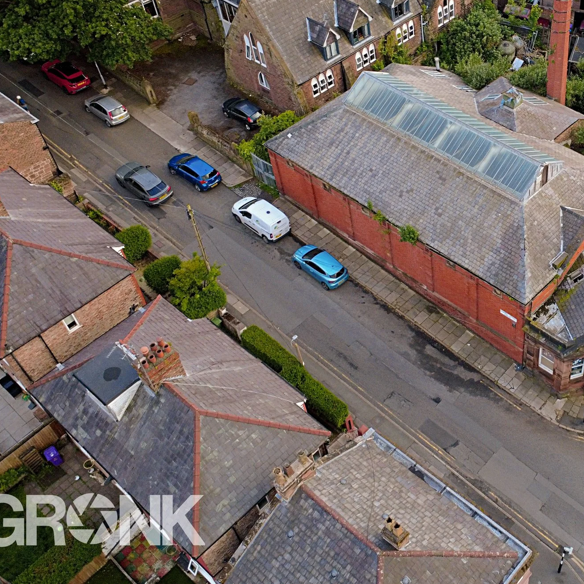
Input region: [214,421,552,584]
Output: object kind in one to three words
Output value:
building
